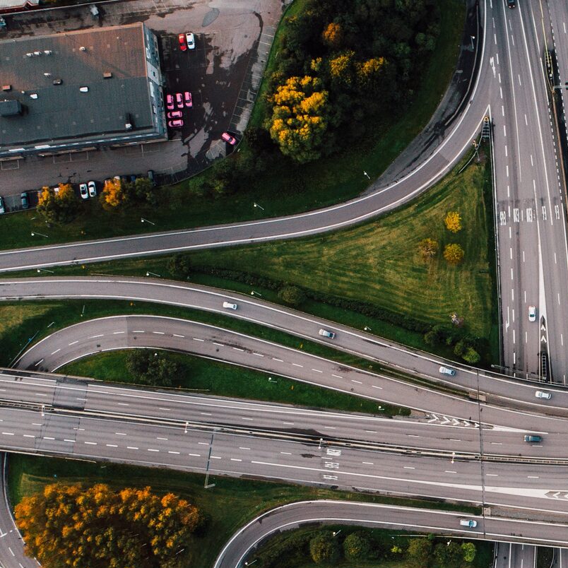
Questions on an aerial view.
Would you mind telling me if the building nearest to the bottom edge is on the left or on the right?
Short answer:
left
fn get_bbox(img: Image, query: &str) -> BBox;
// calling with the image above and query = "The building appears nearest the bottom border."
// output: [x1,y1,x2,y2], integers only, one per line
[0,22,170,161]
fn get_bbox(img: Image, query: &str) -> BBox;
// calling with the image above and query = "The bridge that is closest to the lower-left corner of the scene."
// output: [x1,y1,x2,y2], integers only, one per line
[0,365,52,464]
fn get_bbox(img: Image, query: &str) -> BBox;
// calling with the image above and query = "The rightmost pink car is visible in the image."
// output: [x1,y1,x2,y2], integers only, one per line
[220,131,238,144]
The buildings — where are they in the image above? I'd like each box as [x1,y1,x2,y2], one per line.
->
[0,0,50,14]
[0,22,170,161]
